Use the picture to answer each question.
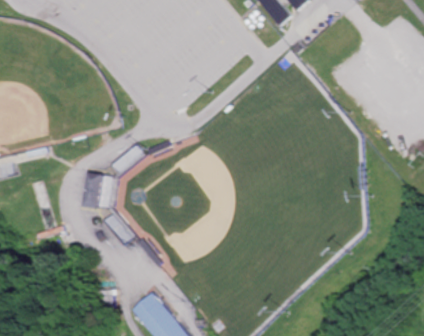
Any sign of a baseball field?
Yes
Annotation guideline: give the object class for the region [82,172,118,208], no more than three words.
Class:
building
